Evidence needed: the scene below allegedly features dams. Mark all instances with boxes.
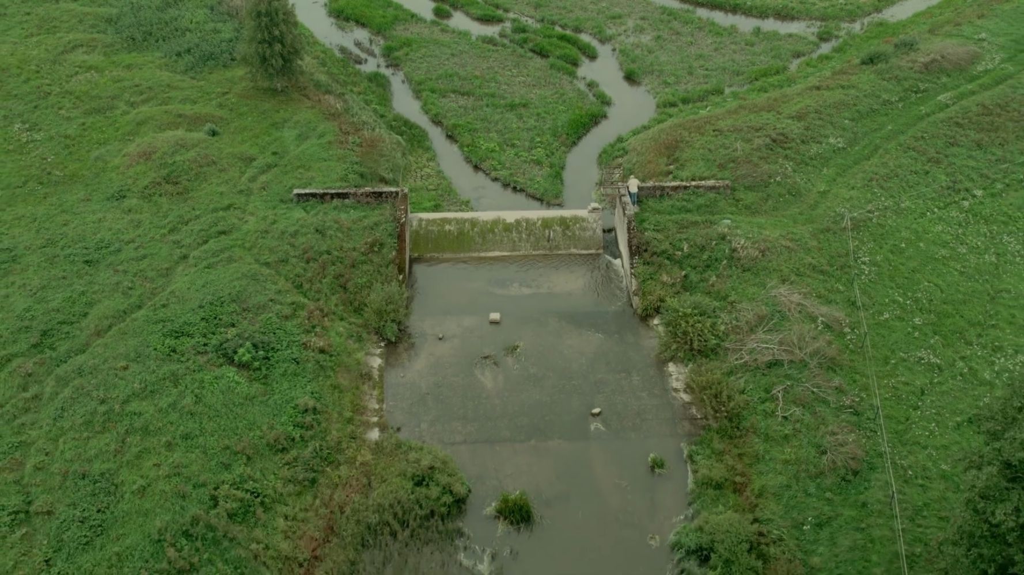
[409,209,604,262]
